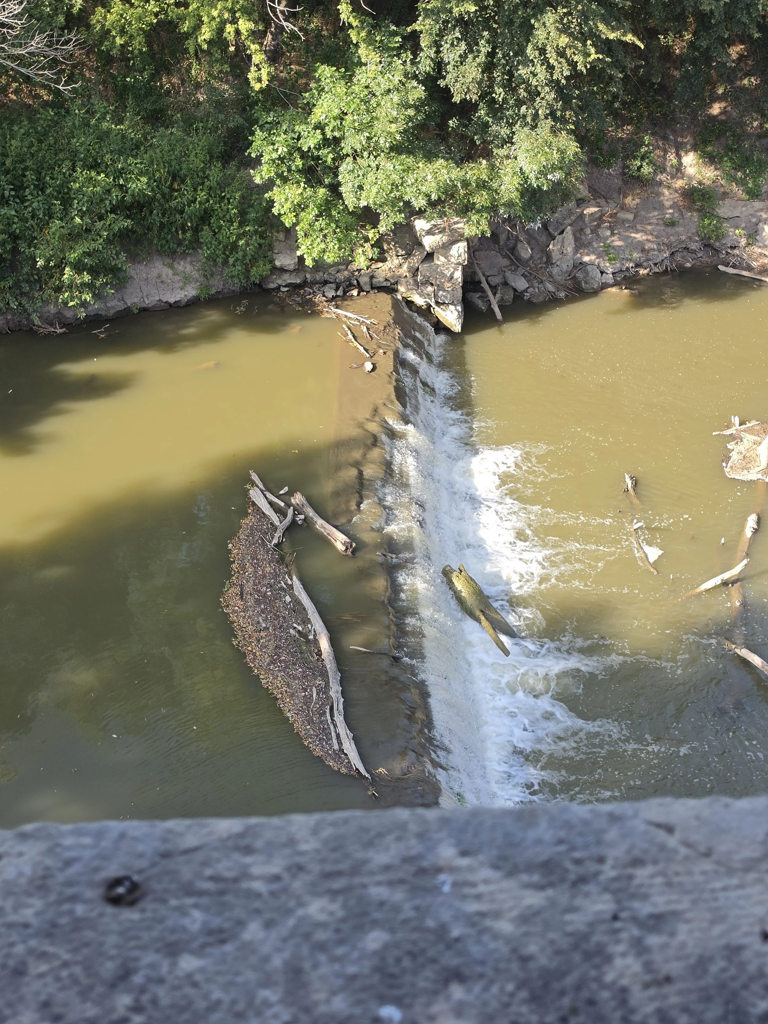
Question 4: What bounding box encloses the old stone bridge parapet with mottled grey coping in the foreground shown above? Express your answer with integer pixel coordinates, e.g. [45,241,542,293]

[0,797,768,1024]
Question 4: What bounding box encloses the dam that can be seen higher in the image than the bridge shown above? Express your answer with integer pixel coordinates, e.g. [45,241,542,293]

[329,283,457,813]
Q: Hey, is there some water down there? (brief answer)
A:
Yes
